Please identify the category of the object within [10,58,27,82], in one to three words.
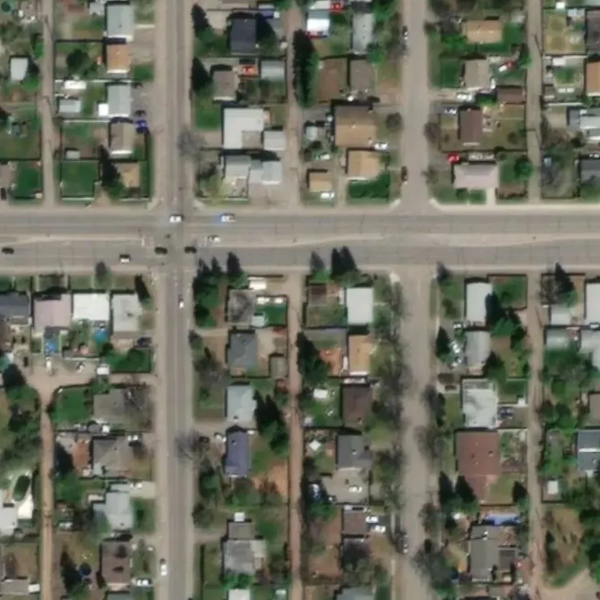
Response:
building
